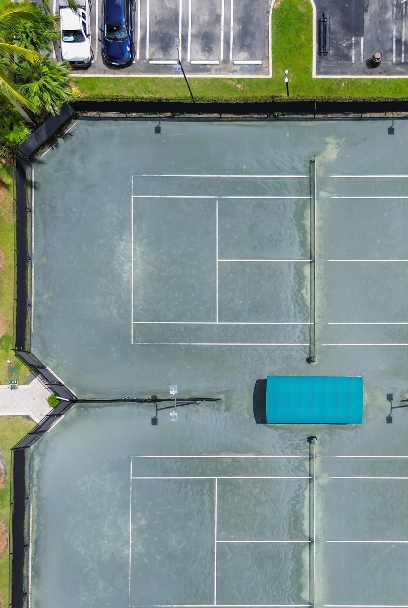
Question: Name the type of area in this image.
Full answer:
What you see here is a sports ground.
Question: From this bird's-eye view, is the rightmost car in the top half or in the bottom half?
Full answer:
The top half of the photo is where the rightmost car is.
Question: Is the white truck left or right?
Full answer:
You can find the white truck on the left side of the picture.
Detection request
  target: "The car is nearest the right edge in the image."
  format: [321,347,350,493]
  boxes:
[98,0,138,66]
